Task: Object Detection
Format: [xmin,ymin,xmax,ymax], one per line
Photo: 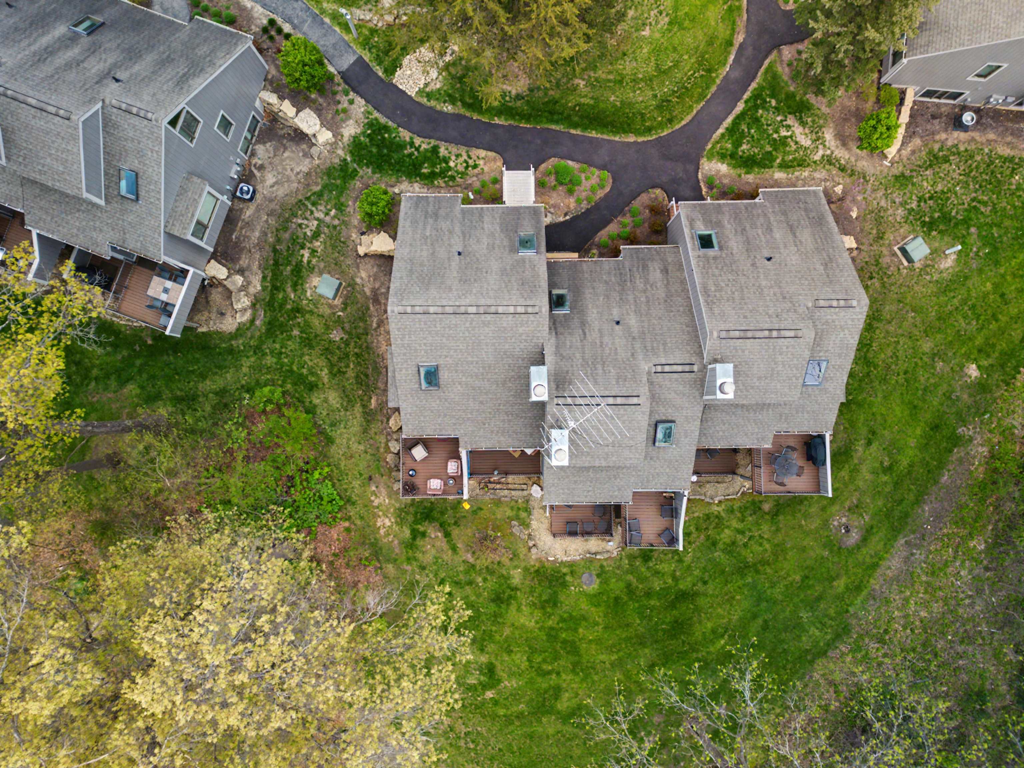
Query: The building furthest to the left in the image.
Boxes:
[0,0,268,274]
